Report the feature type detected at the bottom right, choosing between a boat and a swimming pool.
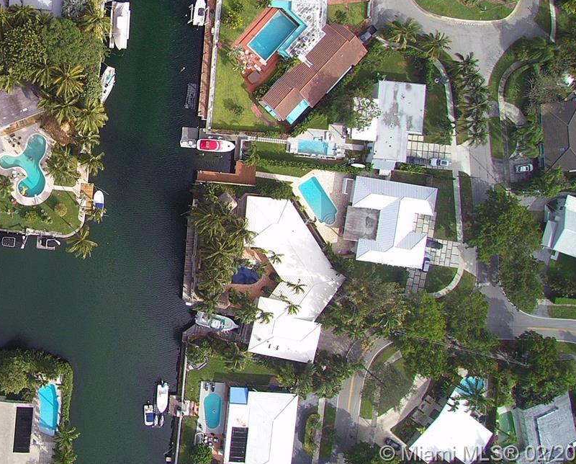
swimming pool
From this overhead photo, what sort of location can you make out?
residential area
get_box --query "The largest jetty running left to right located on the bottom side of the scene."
[180,322,252,345]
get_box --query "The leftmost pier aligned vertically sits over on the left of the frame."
[80,182,93,216]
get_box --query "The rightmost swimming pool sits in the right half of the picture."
[454,376,485,399]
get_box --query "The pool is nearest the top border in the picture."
[245,10,298,62]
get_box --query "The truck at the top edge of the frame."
[356,23,379,44]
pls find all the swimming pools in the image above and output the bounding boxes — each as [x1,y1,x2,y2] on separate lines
[0,131,48,199]
[297,176,339,226]
[36,382,60,437]
[245,10,298,62]
[231,266,262,286]
[296,137,328,155]
[454,376,485,399]
[202,393,224,430]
